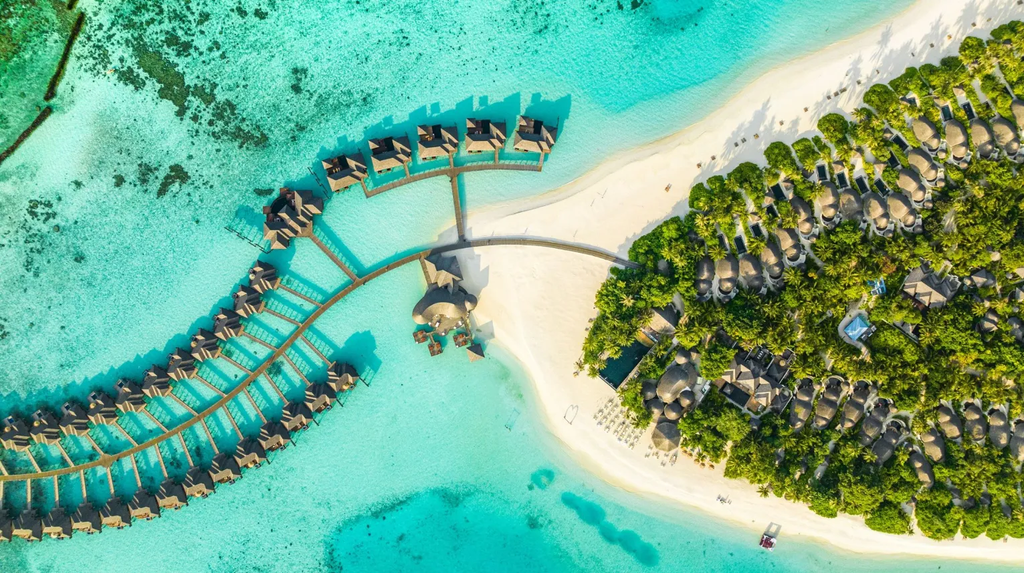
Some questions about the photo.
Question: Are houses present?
Yes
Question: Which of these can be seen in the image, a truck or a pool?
pool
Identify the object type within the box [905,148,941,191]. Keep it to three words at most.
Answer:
house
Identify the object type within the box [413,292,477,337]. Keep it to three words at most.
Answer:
building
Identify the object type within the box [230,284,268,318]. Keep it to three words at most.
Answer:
house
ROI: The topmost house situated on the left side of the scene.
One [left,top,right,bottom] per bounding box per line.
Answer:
[264,188,325,249]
